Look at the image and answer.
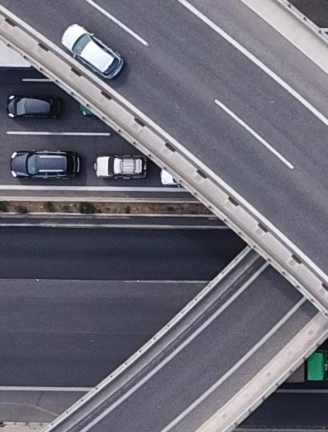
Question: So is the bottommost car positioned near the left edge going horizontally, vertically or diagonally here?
horizontally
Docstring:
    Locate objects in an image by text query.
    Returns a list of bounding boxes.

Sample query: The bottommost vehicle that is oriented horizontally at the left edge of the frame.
[11,148,81,180]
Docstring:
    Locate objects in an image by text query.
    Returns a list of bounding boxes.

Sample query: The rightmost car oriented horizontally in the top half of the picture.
[94,153,149,180]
